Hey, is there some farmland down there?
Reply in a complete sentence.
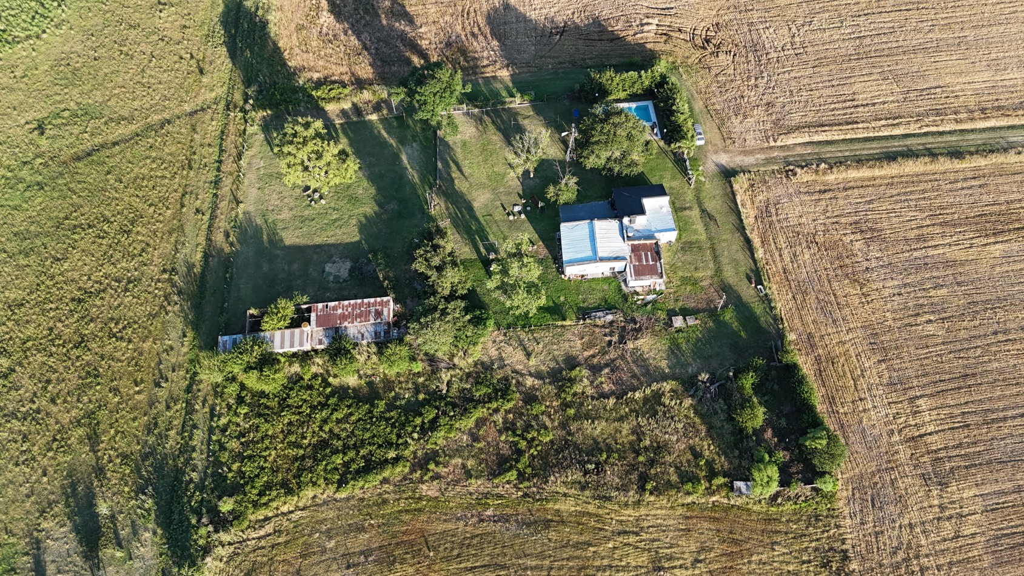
Yes, there's farmland in this view.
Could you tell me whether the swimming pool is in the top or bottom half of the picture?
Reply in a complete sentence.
The swimming pool sits in the top half of the picture.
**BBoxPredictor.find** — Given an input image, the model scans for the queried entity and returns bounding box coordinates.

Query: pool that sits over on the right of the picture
[593,100,662,139]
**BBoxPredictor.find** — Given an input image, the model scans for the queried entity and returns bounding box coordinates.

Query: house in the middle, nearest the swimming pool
[558,184,677,290]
